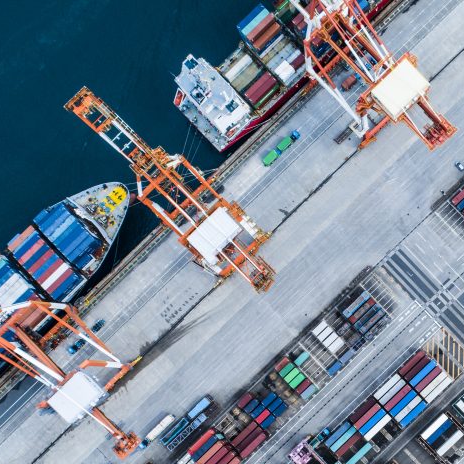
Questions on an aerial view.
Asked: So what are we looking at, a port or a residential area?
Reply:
port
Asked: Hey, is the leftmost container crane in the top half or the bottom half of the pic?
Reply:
bottom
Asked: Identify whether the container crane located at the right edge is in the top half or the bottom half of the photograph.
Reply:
top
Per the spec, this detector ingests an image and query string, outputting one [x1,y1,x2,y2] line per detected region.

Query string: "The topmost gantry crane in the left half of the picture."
[70,87,276,299]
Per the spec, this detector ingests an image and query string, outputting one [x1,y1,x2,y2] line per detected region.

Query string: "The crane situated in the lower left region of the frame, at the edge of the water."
[0,295,144,455]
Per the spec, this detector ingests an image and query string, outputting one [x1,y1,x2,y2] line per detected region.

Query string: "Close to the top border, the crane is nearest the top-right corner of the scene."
[292,0,460,156]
